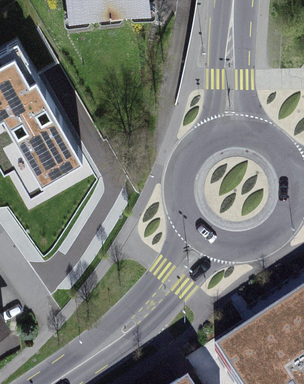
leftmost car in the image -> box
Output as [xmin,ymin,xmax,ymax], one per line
[2,305,24,321]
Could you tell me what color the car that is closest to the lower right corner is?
black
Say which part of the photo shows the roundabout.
right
